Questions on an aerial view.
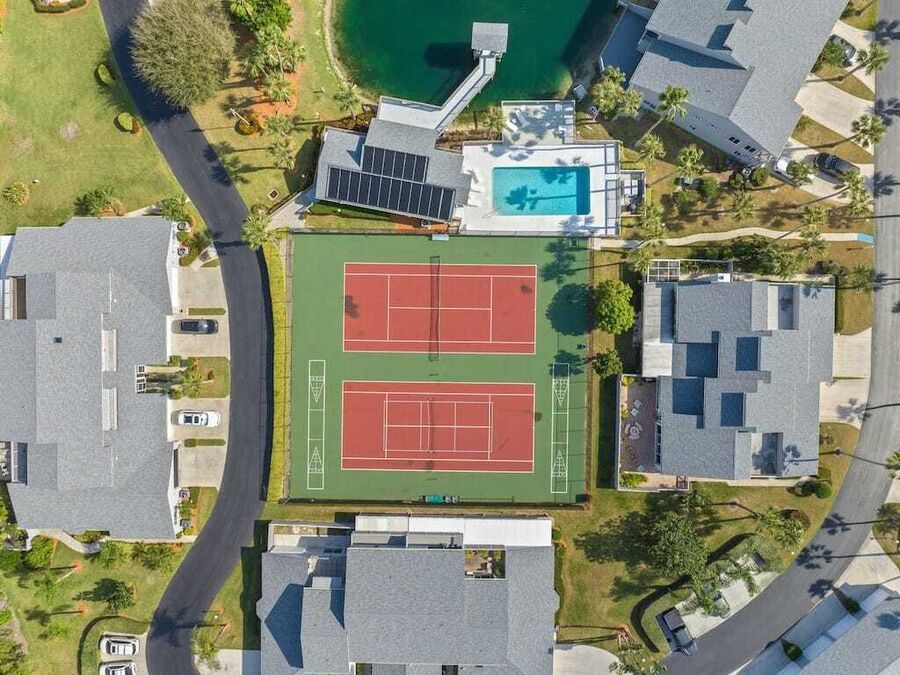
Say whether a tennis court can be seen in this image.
Yes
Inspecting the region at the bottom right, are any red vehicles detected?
No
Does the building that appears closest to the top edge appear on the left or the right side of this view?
right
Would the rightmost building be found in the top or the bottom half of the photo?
bottom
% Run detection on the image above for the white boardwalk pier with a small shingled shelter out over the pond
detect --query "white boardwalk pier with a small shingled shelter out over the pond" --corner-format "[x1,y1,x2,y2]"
[376,22,509,130]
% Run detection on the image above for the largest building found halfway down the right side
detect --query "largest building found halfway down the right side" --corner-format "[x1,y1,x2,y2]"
[618,260,833,495]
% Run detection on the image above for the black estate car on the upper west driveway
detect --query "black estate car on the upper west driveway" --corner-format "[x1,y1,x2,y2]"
[175,317,215,336]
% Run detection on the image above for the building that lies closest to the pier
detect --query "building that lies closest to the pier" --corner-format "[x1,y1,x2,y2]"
[316,119,471,223]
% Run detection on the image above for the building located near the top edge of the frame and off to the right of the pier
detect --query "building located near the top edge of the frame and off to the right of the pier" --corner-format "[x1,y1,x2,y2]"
[601,0,849,169]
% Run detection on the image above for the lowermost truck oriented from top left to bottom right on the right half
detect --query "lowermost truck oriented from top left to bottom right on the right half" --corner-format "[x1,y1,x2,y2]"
[658,602,694,650]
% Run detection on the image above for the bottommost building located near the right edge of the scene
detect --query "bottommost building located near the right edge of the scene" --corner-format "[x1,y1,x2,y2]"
[767,579,900,675]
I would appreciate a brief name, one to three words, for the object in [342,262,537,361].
tennis court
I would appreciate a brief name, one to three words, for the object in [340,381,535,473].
tennis court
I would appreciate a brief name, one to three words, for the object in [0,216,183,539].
building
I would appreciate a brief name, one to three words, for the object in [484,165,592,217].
swimming pool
